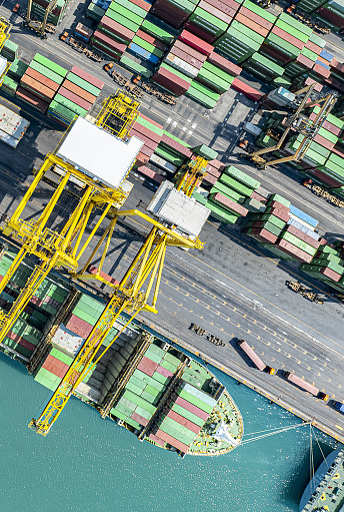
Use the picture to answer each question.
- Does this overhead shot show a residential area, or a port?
port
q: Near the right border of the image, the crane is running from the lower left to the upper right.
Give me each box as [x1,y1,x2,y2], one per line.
[245,81,343,168]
